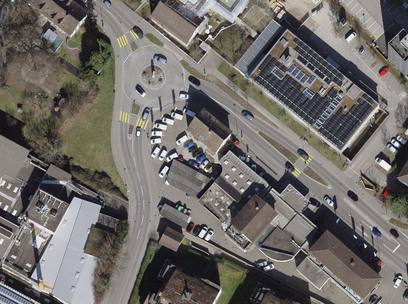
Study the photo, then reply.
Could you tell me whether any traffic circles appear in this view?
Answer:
Yes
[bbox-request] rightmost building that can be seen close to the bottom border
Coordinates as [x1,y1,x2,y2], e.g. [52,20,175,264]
[308,230,382,304]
